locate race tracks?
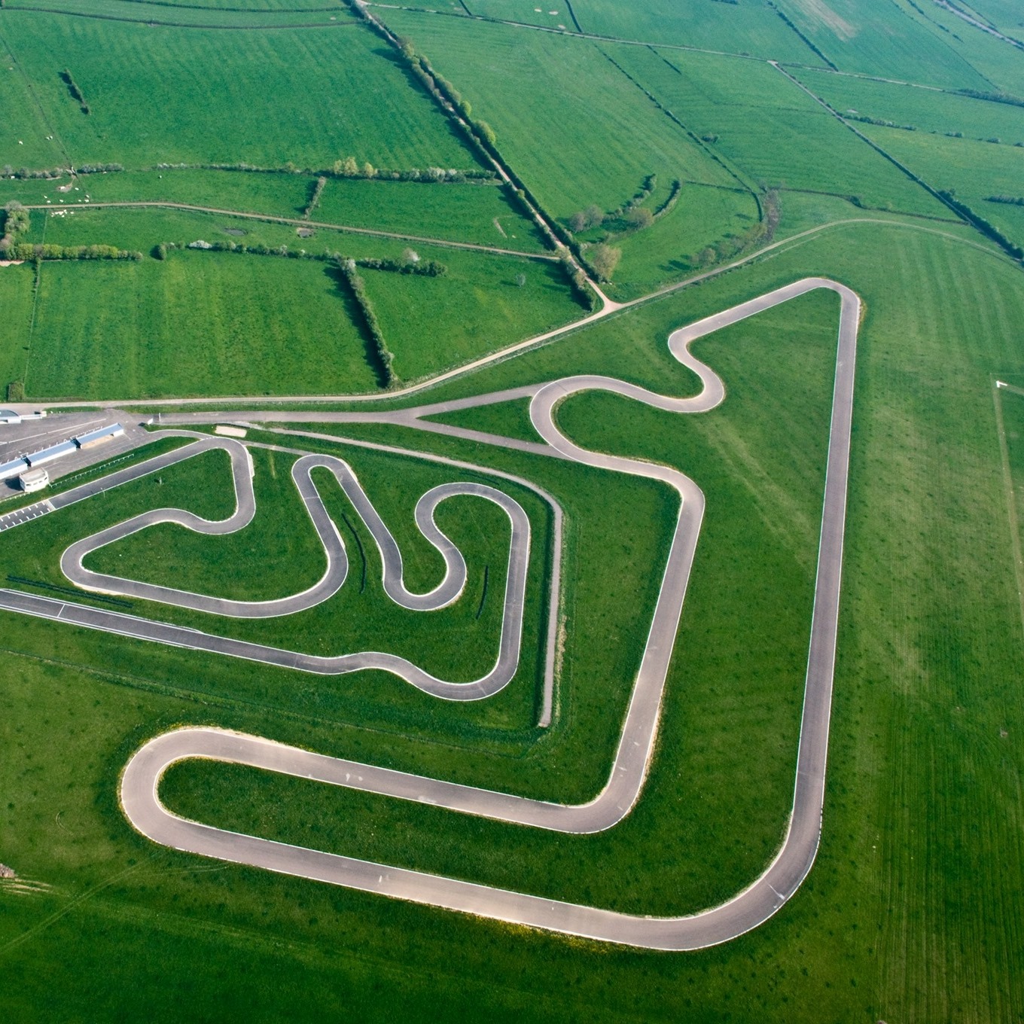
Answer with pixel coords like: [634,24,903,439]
[0,437,531,700]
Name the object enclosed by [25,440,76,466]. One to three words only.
building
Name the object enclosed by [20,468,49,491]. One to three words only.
building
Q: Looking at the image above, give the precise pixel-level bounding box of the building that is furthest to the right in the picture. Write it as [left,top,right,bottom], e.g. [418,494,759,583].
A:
[75,422,124,448]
